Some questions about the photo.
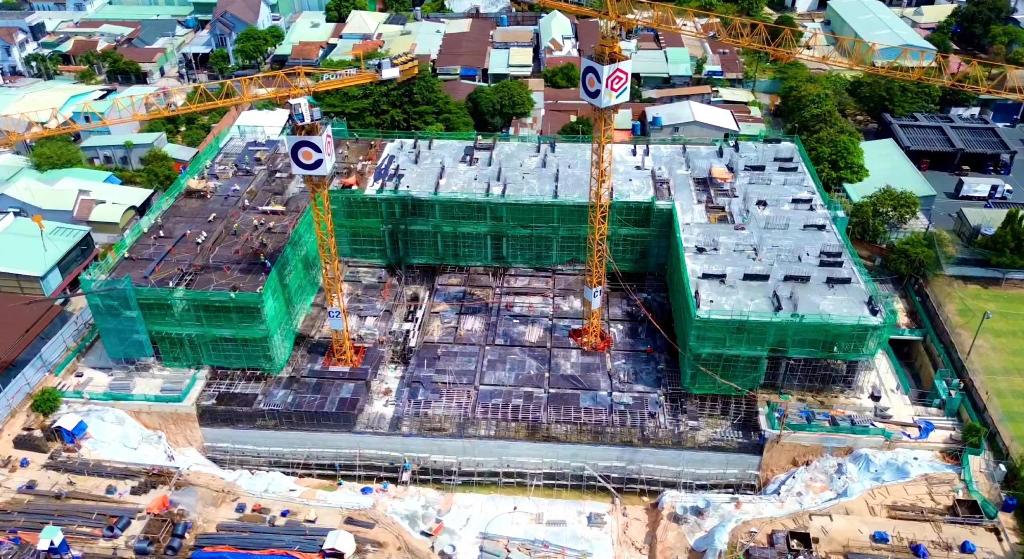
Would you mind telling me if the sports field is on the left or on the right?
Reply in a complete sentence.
The sports field is on the right side of the image.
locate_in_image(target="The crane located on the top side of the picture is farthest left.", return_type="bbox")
[0,55,417,370]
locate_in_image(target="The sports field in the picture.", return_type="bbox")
[948,280,1024,441]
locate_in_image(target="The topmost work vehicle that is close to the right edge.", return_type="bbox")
[996,156,1014,171]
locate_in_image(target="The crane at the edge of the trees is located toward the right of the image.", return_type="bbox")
[478,0,1024,360]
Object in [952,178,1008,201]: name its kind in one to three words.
truck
